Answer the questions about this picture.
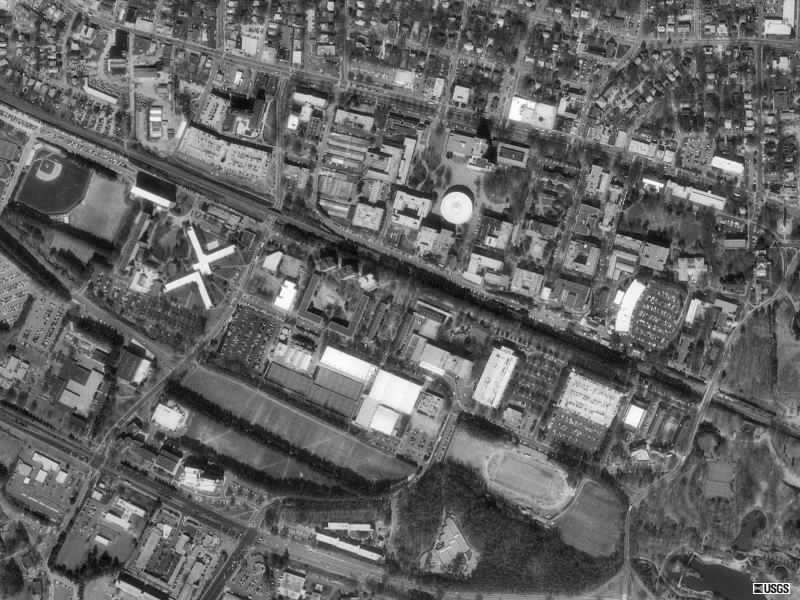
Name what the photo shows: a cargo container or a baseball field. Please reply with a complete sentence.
There is a baseball field in the scene.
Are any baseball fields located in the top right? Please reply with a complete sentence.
No, the scene shows no baseball field in the top right.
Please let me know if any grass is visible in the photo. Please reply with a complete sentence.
Yes, grass shows up in the scene.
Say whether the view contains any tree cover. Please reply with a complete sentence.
Yes, tree cover can be seen from above here.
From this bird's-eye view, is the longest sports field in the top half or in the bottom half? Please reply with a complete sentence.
The longest sports field sits in the bottom half of the picture.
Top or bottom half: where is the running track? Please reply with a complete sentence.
Seen from above, the running track lies in the bottom half of the view.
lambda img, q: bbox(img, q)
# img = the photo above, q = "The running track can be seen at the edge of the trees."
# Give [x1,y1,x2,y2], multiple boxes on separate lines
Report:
[486,445,573,509]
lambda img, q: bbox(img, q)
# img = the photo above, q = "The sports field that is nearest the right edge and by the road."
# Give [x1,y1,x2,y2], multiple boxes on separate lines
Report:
[556,483,621,556]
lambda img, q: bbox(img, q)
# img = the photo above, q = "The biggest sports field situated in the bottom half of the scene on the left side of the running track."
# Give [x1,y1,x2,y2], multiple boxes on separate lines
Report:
[182,366,415,479]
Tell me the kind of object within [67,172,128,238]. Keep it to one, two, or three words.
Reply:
sports field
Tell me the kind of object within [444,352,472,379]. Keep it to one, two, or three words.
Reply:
building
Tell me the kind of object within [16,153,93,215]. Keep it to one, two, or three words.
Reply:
baseball field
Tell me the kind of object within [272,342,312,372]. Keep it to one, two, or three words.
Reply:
greenhouse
